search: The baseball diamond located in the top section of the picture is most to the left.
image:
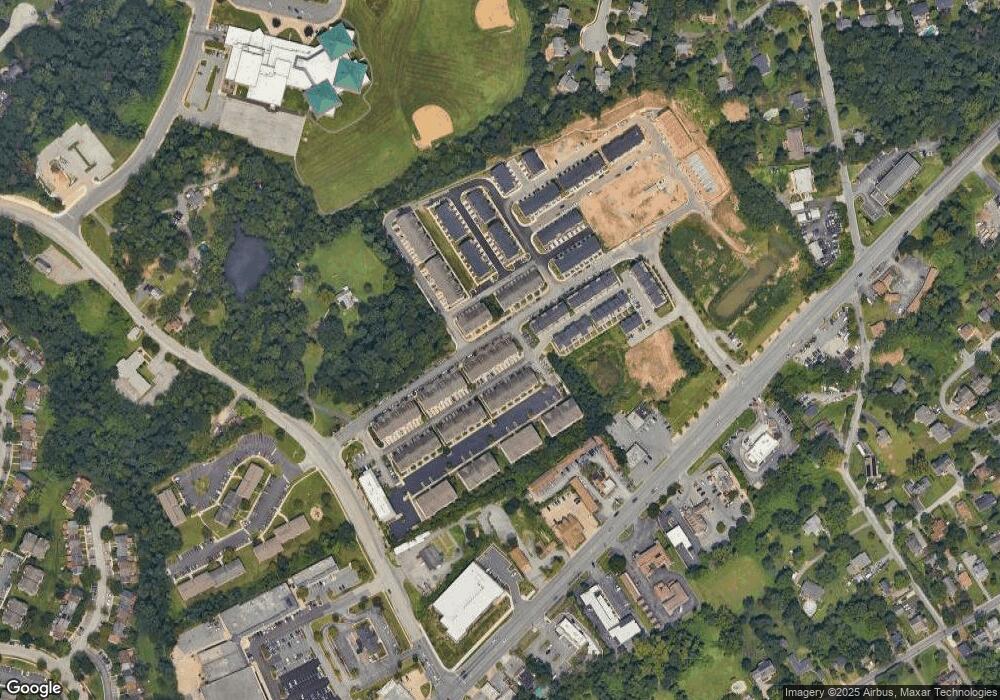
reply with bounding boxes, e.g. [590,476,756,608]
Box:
[412,104,453,151]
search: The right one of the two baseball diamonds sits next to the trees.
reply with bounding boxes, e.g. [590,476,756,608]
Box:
[475,0,519,33]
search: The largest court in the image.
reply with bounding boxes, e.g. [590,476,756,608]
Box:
[220,97,306,155]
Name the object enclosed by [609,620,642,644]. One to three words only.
building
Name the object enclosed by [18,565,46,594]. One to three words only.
house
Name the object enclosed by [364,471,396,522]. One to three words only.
building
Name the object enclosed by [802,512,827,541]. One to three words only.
house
